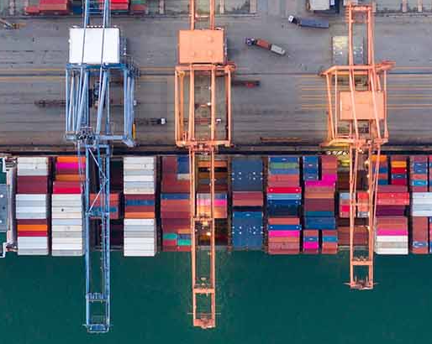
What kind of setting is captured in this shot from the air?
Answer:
port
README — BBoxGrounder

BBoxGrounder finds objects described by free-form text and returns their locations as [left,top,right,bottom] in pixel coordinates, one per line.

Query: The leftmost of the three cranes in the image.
[64,0,150,333]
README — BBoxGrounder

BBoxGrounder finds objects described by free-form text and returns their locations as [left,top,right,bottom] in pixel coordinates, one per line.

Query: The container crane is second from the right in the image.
[172,0,245,331]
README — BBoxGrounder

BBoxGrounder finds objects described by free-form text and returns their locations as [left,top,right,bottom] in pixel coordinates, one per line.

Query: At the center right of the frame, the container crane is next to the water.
[312,2,399,291]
